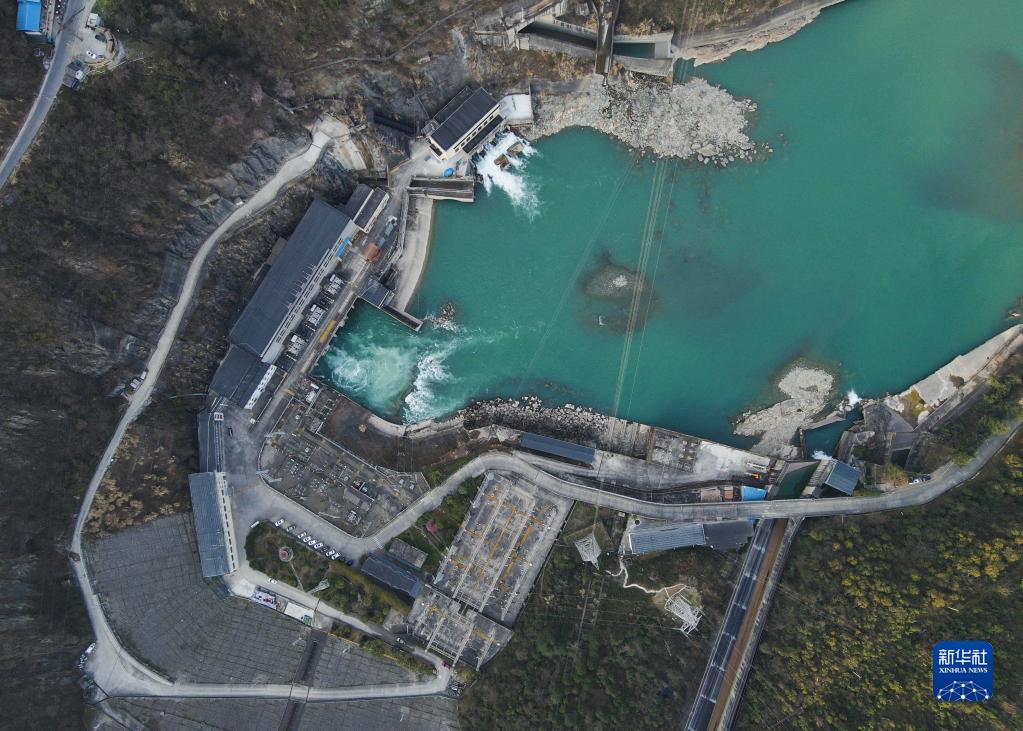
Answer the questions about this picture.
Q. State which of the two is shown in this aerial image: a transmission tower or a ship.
transmission tower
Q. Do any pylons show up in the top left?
No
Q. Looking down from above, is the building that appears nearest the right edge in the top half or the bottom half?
bottom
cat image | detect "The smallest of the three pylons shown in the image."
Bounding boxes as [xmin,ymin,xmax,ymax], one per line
[309,576,333,599]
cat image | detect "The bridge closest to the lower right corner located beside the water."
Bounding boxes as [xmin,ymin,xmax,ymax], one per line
[762,499,808,517]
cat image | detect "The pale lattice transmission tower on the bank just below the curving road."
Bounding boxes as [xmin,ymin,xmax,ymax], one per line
[572,532,603,572]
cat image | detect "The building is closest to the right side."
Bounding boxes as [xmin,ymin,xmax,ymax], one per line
[819,457,860,494]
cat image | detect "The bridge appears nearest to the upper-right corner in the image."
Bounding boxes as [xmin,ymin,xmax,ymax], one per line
[592,0,613,86]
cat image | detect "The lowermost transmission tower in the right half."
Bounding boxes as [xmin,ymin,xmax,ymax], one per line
[662,591,701,638]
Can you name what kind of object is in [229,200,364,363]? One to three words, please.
building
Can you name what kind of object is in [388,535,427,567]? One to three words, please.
house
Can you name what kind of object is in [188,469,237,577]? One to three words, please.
building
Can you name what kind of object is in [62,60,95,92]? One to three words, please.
house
